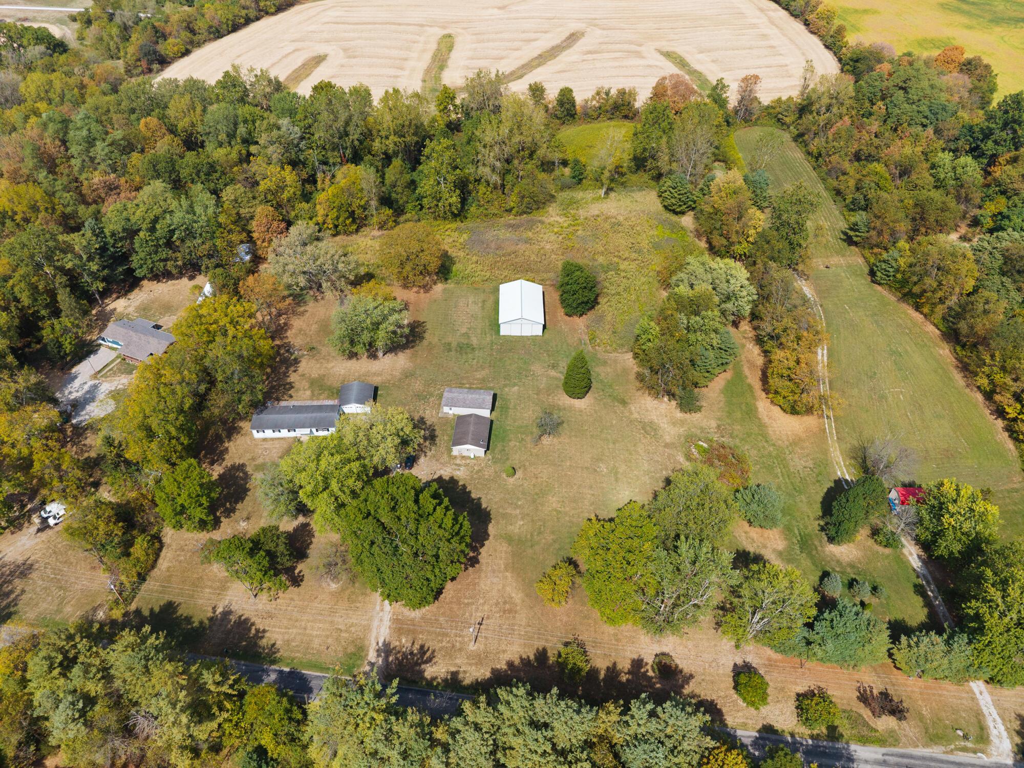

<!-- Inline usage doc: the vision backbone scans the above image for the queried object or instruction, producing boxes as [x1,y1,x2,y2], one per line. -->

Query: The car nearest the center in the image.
[403,452,415,469]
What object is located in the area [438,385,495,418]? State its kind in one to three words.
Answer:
shed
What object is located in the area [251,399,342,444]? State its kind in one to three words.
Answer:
house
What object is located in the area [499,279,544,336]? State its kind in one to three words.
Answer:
barn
